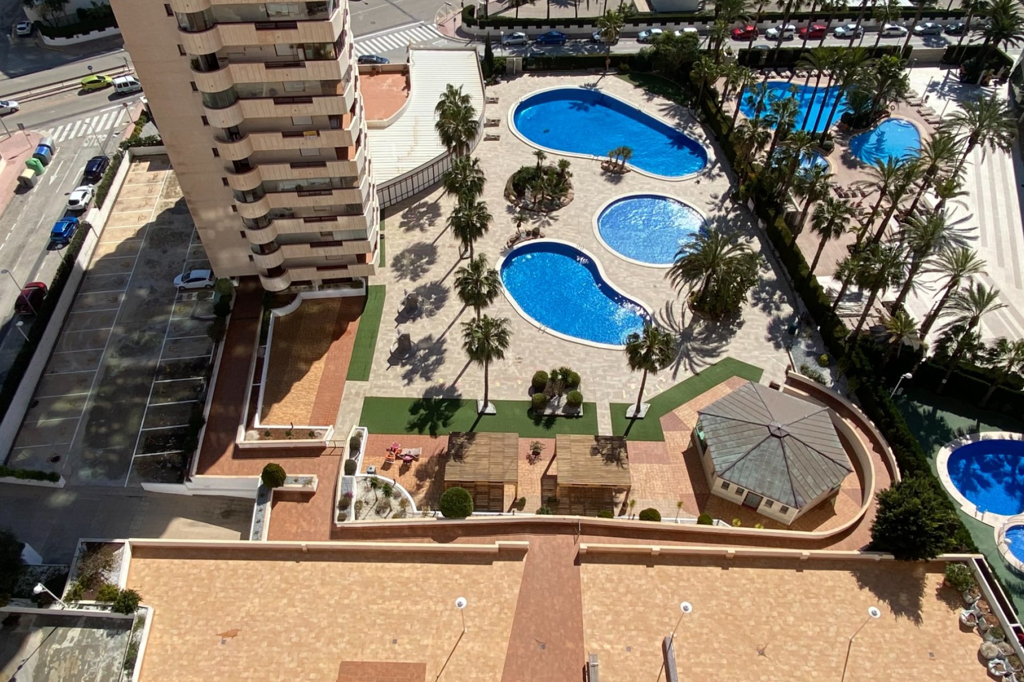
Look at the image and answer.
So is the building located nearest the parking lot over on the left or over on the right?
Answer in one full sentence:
It is on the left.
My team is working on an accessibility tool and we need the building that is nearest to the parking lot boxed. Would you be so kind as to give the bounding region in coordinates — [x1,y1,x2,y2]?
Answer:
[105,0,386,303]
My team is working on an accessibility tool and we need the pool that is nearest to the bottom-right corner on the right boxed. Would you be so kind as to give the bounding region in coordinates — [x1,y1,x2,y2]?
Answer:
[994,512,1024,568]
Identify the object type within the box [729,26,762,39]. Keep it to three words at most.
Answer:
vehicle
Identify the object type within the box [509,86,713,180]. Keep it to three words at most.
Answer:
swimming pool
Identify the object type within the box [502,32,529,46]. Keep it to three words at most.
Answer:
car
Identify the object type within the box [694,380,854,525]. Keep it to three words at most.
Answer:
building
